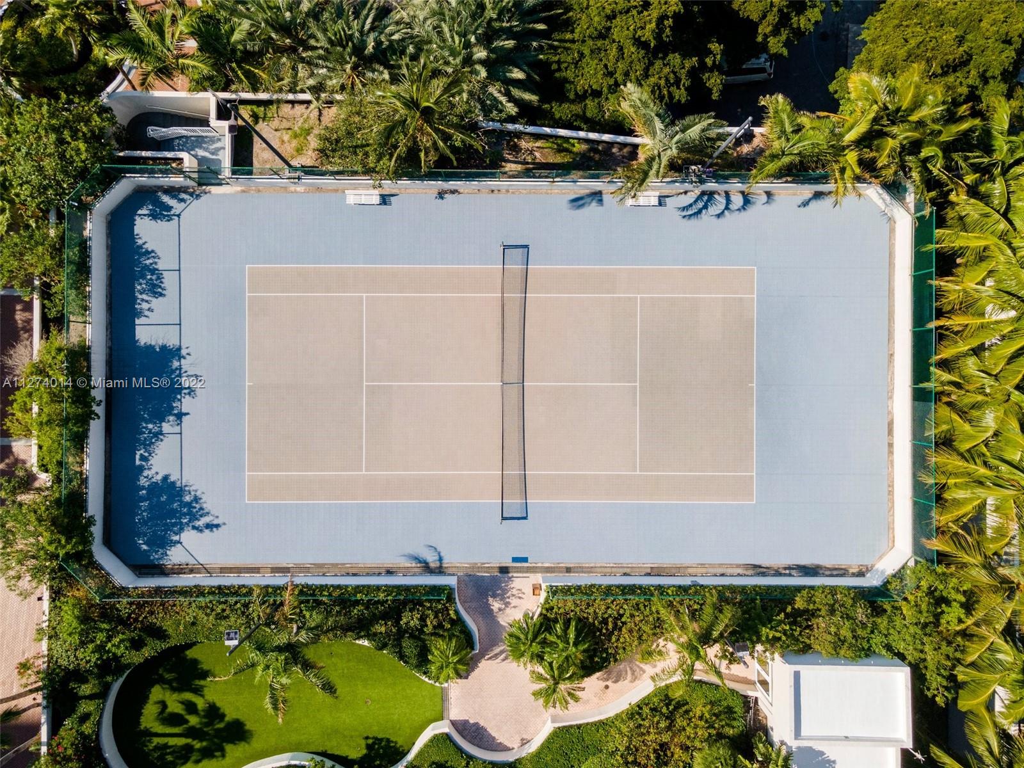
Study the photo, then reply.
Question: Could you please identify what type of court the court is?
tennis court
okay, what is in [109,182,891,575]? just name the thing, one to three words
tennis court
